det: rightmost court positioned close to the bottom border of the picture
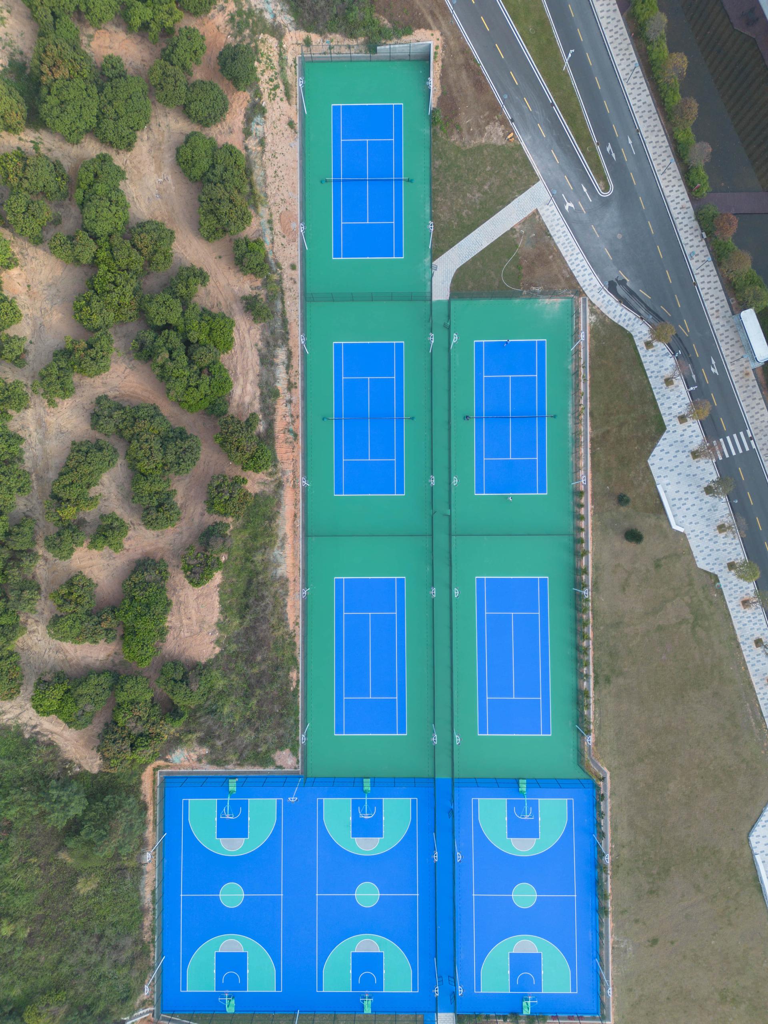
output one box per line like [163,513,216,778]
[452,779,602,1016]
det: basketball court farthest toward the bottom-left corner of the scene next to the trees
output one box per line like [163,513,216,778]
[161,776,300,1014]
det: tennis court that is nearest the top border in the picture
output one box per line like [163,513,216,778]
[306,61,432,301]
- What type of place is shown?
sports ground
